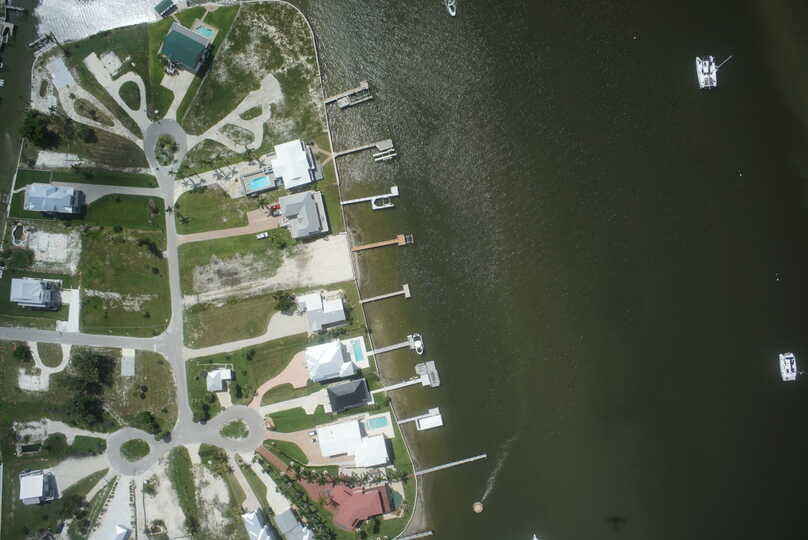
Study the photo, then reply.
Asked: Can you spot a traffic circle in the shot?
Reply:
Yes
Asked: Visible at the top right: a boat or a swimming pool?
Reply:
boat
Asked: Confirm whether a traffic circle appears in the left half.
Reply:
Yes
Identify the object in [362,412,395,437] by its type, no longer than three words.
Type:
swimming pool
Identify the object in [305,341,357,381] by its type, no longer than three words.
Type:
house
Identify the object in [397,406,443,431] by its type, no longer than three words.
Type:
pier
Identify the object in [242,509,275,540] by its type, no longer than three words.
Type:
house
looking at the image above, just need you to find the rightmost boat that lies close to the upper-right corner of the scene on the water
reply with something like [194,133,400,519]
[698,55,728,89]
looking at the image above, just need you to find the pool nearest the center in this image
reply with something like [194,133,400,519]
[345,336,369,367]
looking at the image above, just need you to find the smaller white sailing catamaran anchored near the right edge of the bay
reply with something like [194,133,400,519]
[780,353,808,383]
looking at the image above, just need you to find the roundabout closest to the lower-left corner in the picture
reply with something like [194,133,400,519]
[107,428,156,475]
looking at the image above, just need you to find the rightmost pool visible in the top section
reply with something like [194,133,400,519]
[241,167,276,194]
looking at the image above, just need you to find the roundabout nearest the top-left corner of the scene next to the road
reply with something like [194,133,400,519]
[144,118,188,166]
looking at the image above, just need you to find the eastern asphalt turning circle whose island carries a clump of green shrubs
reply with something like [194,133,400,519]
[208,404,264,458]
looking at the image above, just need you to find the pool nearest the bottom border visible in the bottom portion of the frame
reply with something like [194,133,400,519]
[387,480,403,510]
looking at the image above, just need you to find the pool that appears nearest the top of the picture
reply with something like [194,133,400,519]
[192,19,218,43]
